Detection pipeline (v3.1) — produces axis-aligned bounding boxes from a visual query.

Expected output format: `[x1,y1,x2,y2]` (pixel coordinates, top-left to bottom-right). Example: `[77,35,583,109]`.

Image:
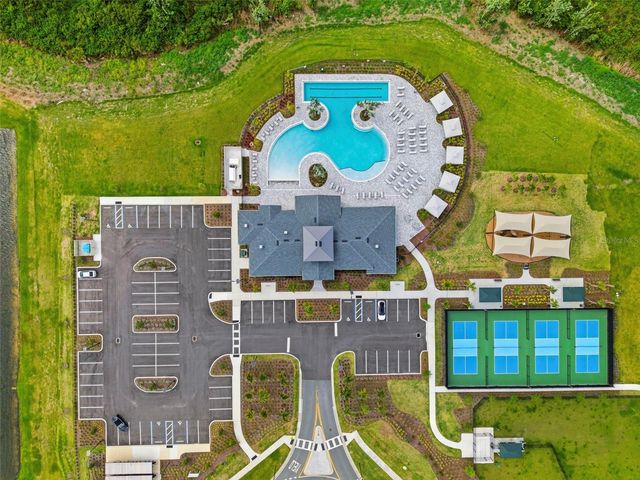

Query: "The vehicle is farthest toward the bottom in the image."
[112,414,129,432]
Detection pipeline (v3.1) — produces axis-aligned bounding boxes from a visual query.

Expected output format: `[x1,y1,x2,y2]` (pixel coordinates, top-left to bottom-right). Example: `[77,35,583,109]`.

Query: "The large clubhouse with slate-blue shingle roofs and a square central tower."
[238,194,396,281]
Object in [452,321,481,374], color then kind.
blue sports court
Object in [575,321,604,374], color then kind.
blue sports court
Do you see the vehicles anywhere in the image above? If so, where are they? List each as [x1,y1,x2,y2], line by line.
[378,301,386,320]
[112,414,129,432]
[78,270,98,279]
